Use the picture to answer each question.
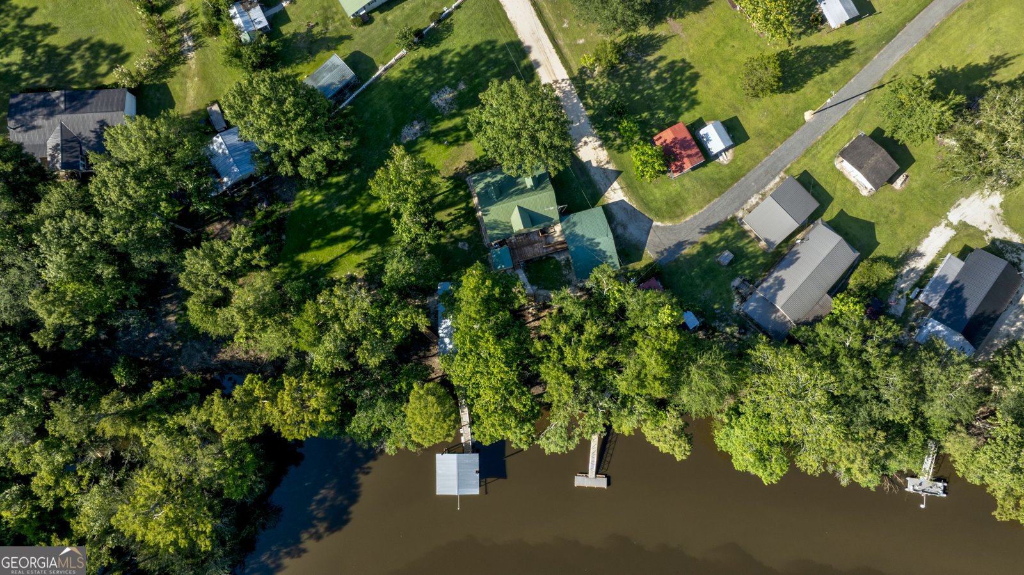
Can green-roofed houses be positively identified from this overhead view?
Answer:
Yes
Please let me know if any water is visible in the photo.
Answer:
Yes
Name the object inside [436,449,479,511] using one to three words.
building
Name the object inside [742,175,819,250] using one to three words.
shed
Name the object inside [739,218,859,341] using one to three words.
house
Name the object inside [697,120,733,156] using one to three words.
shed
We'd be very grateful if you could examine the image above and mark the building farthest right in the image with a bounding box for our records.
[910,248,1024,361]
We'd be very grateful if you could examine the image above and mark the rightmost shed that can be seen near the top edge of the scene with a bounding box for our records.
[810,0,859,32]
